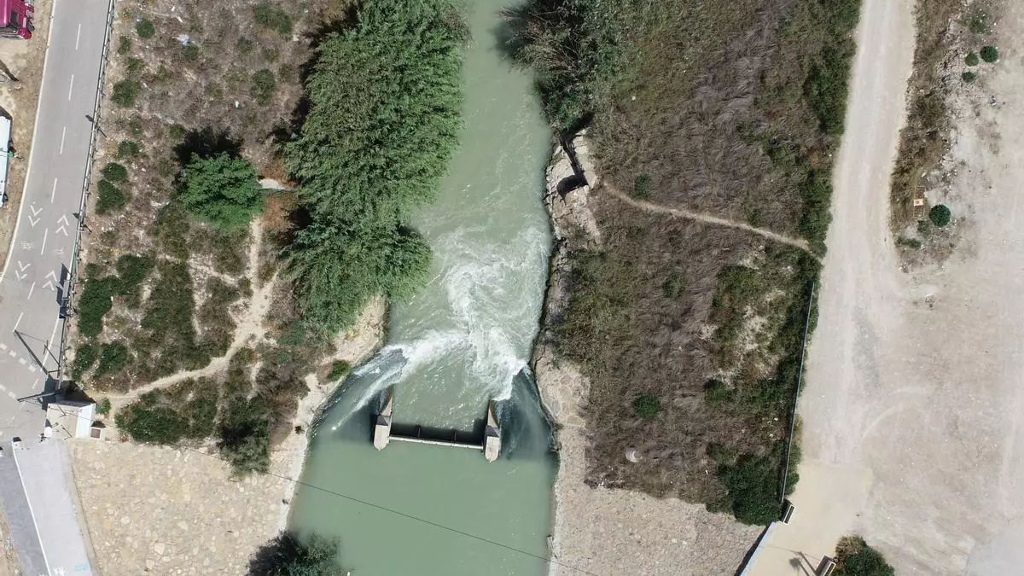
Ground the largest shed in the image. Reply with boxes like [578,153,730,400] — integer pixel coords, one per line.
[43,399,96,439]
